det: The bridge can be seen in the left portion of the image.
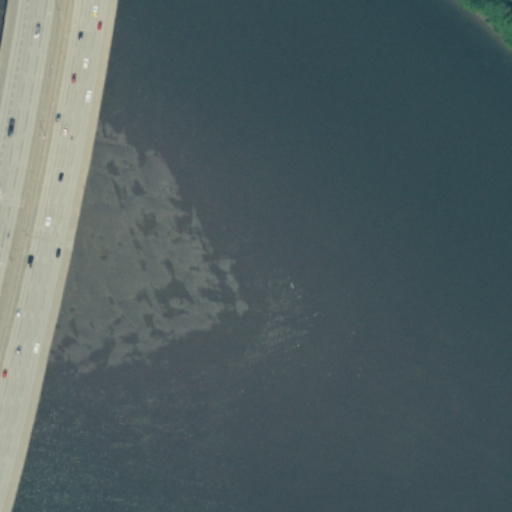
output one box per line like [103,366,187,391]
[0,0,118,512]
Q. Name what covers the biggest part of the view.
water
